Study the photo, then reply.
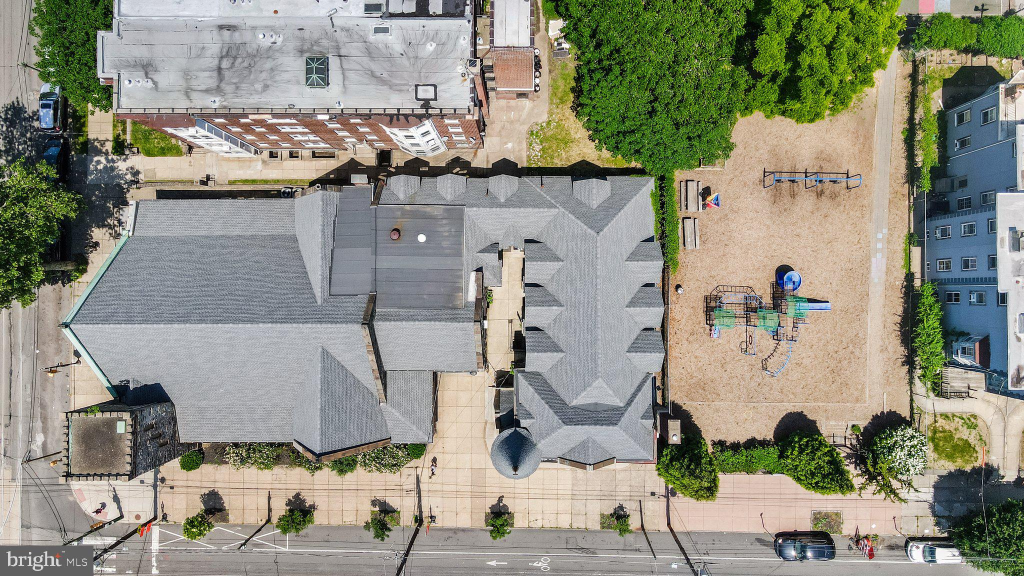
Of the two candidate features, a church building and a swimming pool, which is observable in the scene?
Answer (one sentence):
I can see a church building in this picture.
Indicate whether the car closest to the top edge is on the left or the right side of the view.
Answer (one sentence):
The car closest to the top edge sits on the left side.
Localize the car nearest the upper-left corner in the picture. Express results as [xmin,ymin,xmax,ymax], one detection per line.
[36,84,70,138]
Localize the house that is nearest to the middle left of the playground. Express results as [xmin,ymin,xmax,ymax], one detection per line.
[385,172,682,476]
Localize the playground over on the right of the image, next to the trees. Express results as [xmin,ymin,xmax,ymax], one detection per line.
[668,45,915,445]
